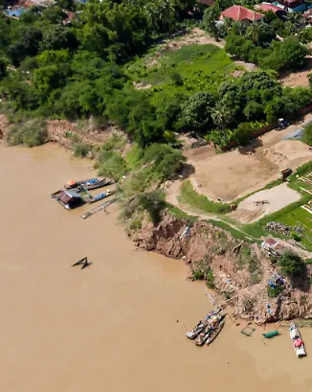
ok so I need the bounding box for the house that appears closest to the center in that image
[48,188,89,209]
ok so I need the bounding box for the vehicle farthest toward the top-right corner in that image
[277,165,295,179]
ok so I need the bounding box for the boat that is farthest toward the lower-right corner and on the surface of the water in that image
[290,321,303,357]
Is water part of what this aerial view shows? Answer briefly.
Yes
